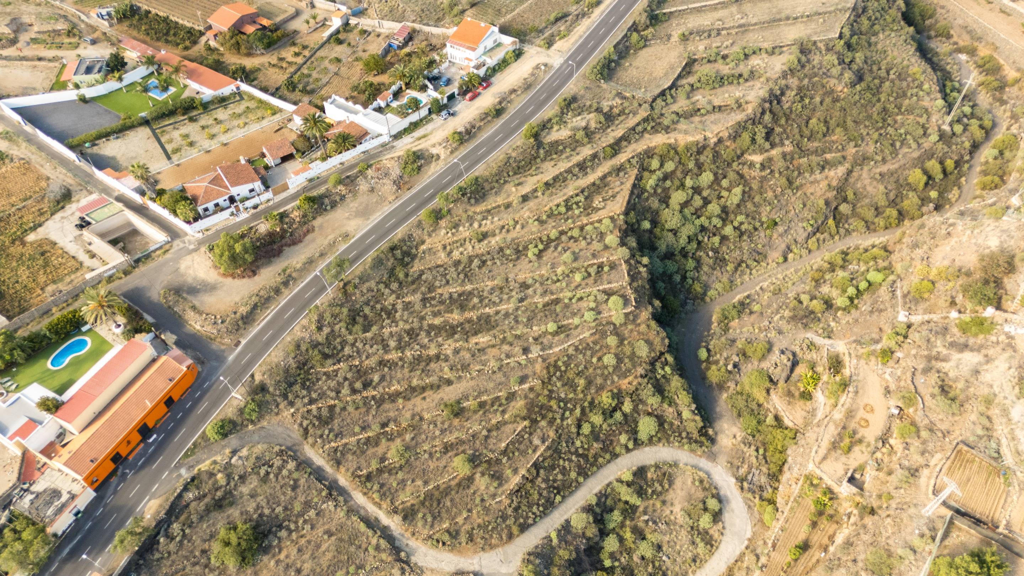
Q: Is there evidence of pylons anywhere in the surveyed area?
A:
Yes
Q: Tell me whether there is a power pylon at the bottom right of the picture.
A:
Yes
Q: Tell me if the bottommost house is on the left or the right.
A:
left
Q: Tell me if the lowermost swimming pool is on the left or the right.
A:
left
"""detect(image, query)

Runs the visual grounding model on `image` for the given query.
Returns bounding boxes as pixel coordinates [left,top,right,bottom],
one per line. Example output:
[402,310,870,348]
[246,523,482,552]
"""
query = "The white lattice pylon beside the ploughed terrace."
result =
[922,472,977,516]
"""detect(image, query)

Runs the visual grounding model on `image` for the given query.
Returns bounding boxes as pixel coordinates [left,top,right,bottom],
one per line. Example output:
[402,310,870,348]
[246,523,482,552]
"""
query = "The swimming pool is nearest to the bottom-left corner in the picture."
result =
[47,335,92,370]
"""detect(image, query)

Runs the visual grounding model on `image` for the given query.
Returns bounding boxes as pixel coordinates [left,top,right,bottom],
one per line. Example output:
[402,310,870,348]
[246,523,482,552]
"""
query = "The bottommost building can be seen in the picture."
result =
[13,469,96,535]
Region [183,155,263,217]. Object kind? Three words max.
house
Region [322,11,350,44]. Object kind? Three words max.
shed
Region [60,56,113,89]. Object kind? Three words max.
building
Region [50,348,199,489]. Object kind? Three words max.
building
